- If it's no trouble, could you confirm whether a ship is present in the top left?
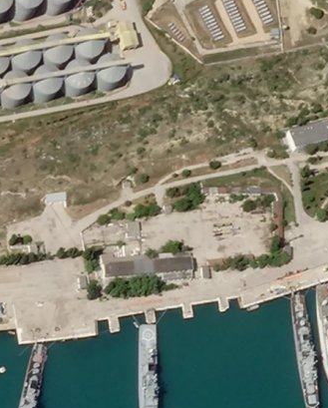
No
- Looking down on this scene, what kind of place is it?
industrial area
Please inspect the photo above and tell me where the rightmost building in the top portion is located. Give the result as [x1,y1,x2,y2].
[288,119,328,151]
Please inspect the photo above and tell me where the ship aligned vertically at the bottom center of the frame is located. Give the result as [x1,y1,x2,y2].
[133,310,166,408]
